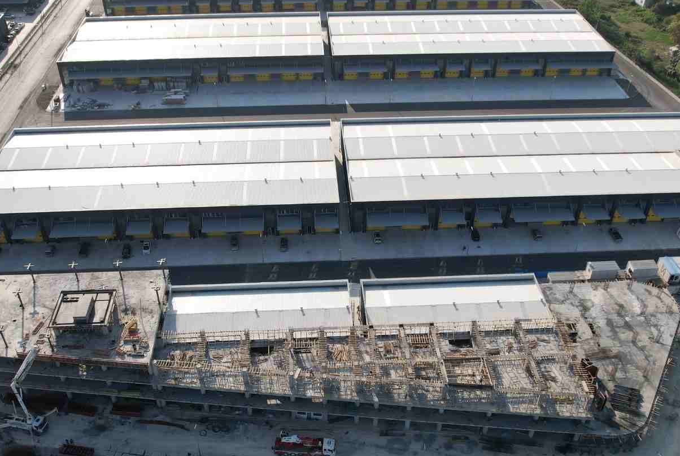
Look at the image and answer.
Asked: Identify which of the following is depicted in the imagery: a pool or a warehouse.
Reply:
warehouse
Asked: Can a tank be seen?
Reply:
No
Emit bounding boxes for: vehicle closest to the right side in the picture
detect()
[606,228,626,241]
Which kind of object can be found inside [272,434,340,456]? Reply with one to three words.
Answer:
truck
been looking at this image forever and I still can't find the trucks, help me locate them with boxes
[0,339,54,439]
[272,434,340,456]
